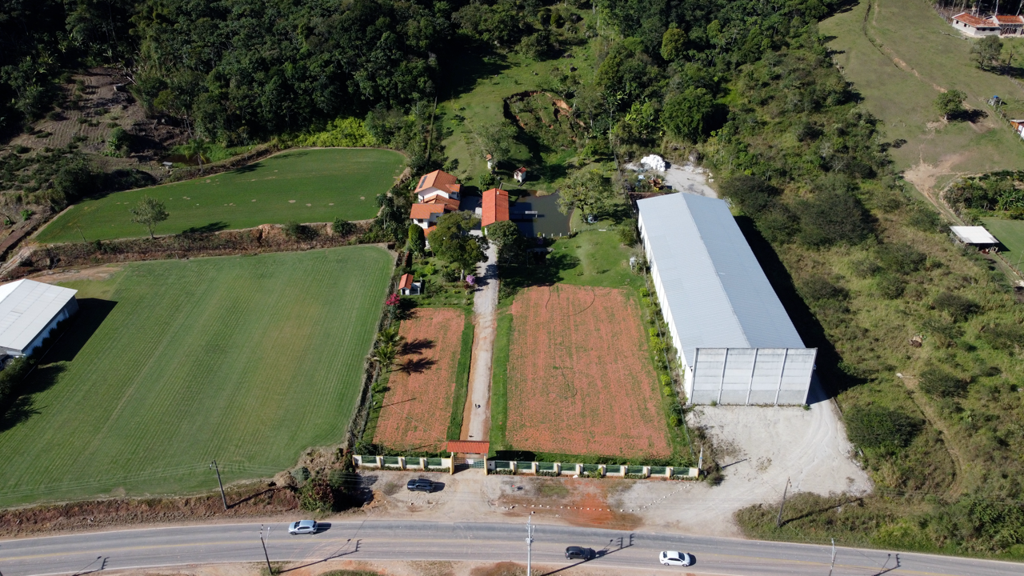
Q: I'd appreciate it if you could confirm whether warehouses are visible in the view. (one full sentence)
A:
Yes, the frame does contain a warehouse.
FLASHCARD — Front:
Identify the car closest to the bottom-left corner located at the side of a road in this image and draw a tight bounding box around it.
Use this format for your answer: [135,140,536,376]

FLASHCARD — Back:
[288,518,318,534]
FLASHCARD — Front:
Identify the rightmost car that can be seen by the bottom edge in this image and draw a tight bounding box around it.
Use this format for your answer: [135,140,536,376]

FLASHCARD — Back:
[659,549,692,565]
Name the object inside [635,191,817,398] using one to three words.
warehouse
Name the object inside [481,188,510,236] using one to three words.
building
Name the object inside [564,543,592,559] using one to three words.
car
